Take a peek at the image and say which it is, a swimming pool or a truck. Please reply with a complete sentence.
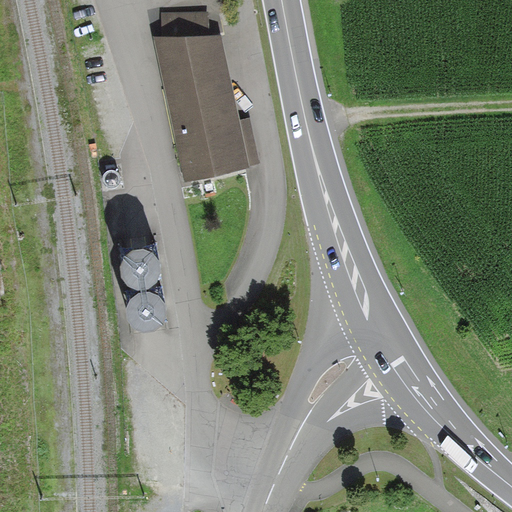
Looking from above, you can make out a truck.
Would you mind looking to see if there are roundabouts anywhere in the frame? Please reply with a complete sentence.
No, the scene contains no roundabout.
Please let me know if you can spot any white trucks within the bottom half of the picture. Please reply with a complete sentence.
Yes, a white truck shows up within the bottom half of the picture.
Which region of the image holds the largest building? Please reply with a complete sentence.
You can find the largest building in the top area of the picture.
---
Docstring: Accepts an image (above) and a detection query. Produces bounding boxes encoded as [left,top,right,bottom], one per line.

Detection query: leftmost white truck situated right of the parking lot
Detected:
[231,78,254,111]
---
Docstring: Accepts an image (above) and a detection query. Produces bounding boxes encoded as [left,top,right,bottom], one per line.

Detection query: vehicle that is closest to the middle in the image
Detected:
[328,247,340,270]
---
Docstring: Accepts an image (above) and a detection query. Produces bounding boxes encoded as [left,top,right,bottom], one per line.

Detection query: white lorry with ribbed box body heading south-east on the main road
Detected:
[440,436,480,474]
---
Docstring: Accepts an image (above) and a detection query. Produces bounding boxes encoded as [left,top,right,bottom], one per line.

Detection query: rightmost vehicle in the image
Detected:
[474,445,493,466]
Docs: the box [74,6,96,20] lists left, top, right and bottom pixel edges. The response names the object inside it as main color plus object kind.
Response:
gray car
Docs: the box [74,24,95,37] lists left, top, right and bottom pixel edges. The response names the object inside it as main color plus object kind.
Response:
white vehicle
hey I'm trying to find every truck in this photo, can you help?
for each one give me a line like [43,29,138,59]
[440,436,480,474]
[231,78,254,111]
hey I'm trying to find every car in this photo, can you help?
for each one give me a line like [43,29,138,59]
[74,6,96,20]
[86,73,106,84]
[328,247,340,270]
[312,98,324,123]
[474,445,493,466]
[74,24,95,37]
[84,57,104,68]
[375,350,390,374]
[290,114,302,138]
[268,8,280,32]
